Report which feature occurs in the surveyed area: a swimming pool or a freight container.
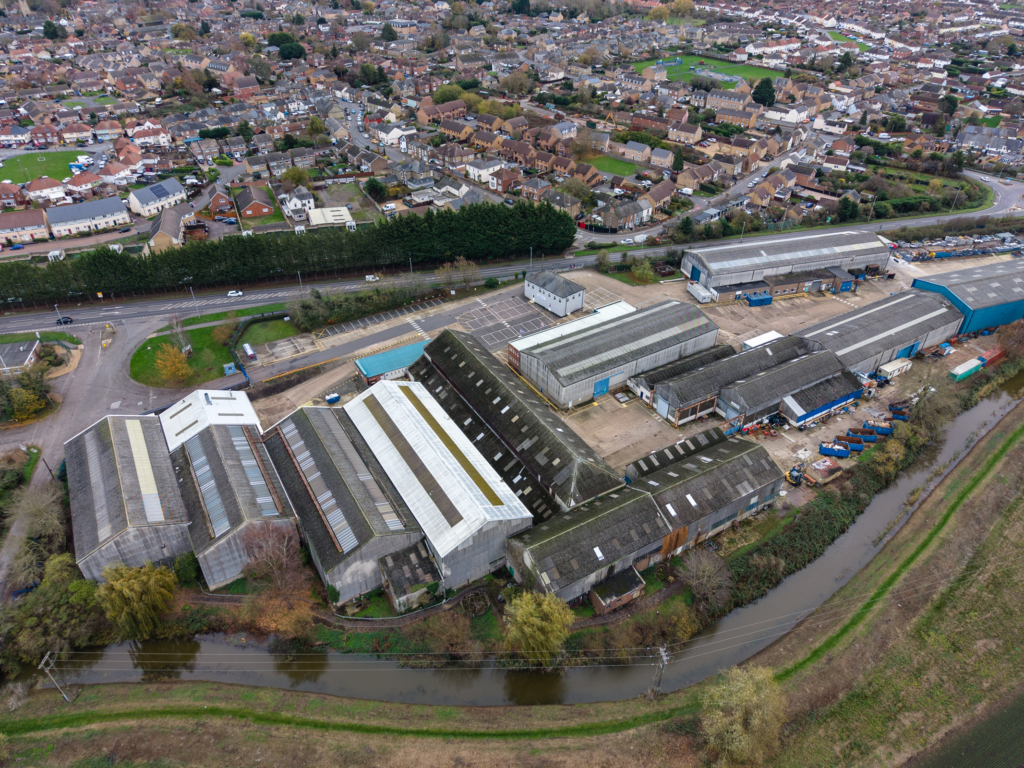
freight container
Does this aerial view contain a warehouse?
Yes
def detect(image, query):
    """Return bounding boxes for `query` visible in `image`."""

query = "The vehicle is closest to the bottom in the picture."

[787,471,809,490]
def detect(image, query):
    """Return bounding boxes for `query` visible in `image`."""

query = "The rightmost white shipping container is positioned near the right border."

[944,358,982,384]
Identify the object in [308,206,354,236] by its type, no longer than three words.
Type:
shed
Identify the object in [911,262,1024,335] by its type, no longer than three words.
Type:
building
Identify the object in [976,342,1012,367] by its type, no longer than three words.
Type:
shipping container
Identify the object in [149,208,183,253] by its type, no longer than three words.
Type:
house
